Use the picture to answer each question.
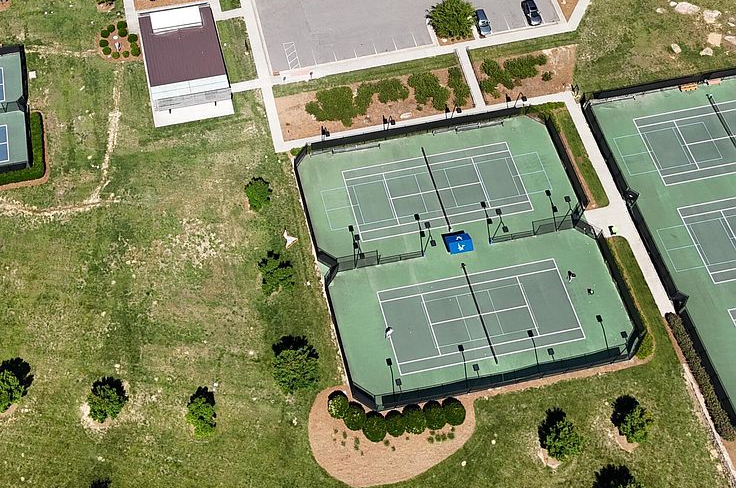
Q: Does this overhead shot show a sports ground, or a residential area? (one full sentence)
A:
The area seen from above is a sports ground.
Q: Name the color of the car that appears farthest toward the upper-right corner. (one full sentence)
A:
The car that appears farthest toward the upper-right corner is black.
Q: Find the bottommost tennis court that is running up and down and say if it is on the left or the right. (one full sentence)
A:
The bottommost tennis court that is running up and down appears in the right half of the scene.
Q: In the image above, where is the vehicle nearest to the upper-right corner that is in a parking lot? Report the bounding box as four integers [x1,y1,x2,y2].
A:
[521,0,541,26]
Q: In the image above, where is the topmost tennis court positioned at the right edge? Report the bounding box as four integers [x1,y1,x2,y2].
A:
[587,77,736,205]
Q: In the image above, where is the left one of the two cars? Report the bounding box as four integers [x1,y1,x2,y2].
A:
[473,9,492,37]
